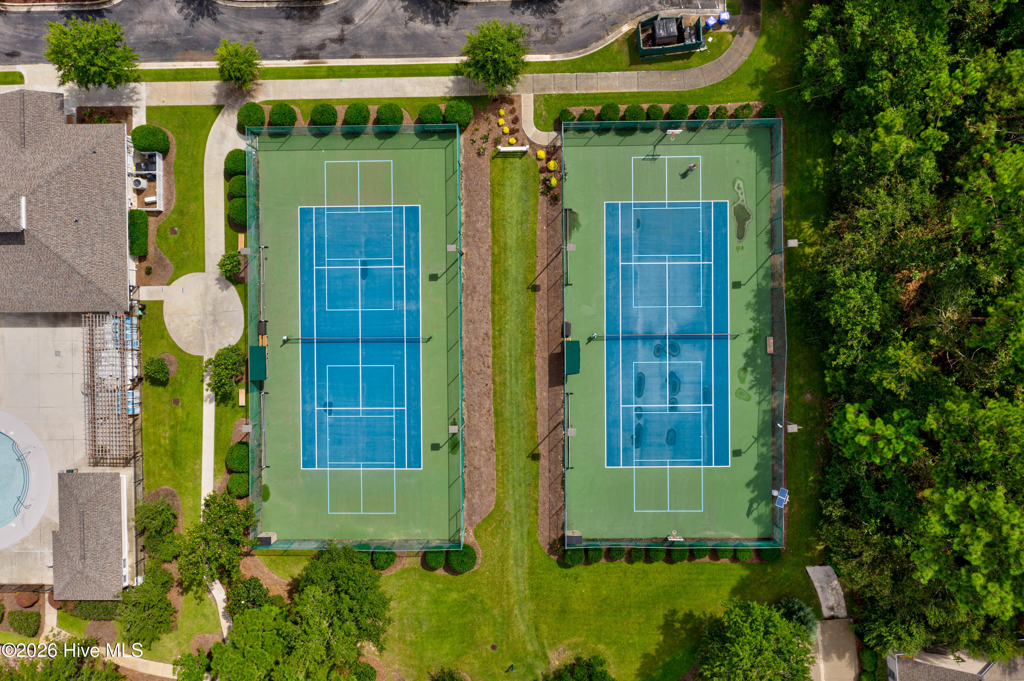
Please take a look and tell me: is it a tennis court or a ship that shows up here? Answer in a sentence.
The one in the frame is a tennis court.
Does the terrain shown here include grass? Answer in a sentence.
Yes, grass can be seen from above here.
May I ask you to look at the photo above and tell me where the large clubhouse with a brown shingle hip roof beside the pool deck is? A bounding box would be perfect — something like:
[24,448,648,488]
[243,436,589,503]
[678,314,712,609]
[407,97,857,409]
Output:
[0,88,139,313]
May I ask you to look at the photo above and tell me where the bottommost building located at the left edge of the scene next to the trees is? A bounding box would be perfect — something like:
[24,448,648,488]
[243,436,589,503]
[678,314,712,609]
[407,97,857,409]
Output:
[51,472,131,601]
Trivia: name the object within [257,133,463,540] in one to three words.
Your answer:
tennis court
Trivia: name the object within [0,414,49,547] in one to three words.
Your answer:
swimming pool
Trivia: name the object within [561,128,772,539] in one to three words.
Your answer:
tennis court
